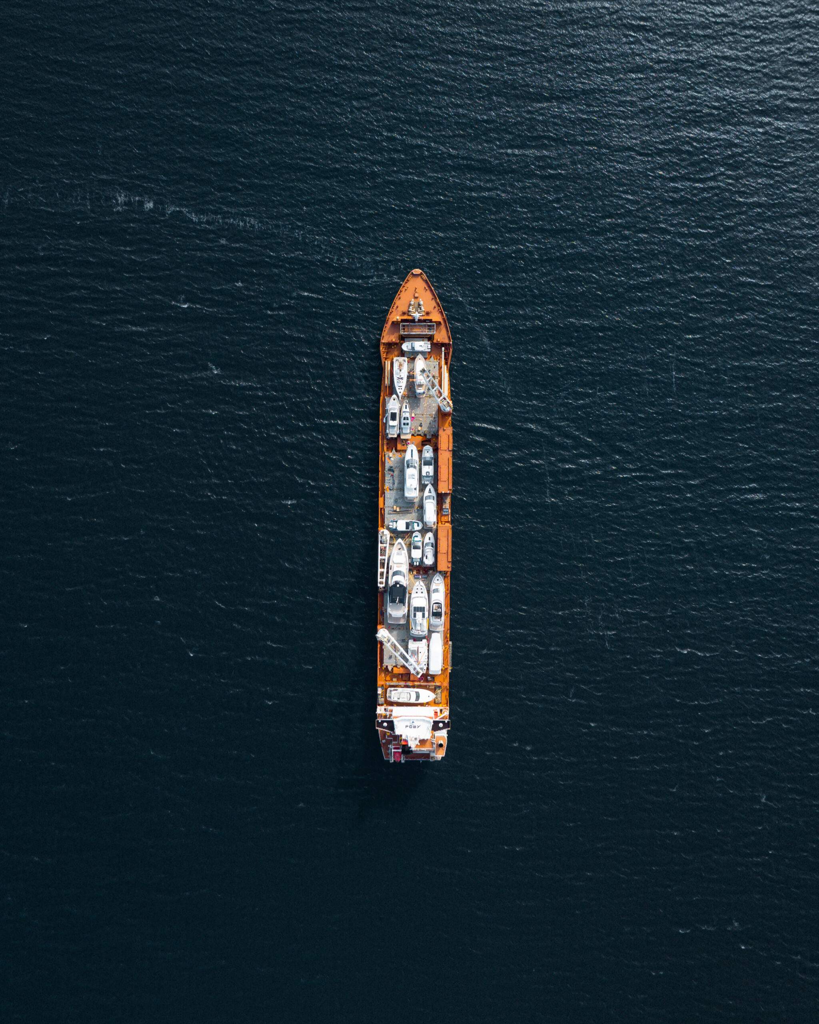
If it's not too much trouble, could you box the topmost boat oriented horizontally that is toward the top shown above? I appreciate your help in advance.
[402,341,431,354]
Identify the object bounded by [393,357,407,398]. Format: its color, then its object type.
white boat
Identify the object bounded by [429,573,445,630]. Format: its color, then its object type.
white boat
